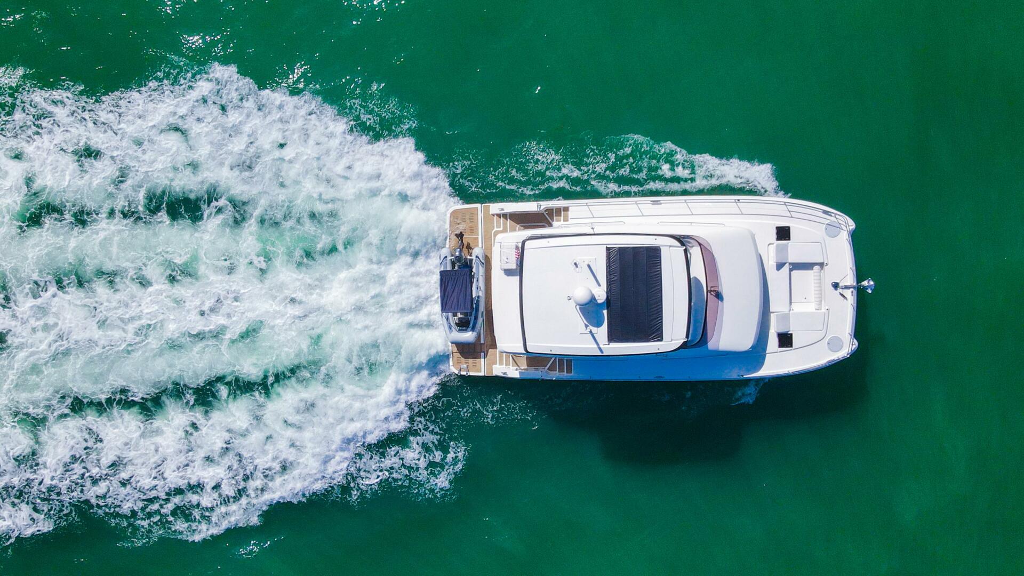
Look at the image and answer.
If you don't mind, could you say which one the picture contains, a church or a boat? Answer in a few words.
boat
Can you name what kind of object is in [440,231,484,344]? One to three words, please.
boat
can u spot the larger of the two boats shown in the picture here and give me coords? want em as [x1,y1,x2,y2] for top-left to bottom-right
[447,196,859,383]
